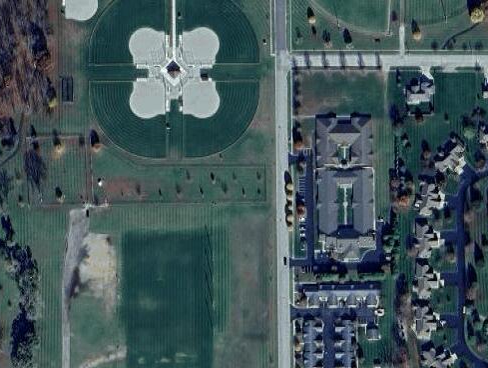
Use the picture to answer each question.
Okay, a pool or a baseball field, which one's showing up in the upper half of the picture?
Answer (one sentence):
You can see a baseball field in the upper half of the picture.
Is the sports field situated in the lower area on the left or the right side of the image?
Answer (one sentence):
The sports field situated in the lower area sits on the left side.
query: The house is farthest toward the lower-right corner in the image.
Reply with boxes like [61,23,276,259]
[423,348,457,368]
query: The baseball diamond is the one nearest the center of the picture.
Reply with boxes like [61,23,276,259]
[182,81,259,158]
